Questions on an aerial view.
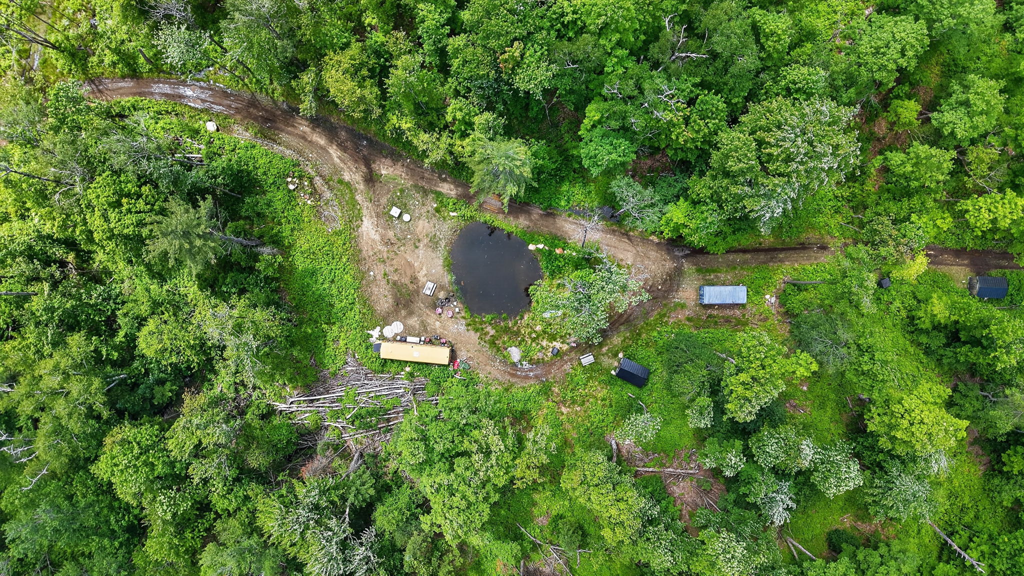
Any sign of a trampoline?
No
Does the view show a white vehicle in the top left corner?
No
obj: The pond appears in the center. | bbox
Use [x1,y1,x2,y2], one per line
[453,224,541,318]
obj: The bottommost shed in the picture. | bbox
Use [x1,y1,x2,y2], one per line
[615,358,649,387]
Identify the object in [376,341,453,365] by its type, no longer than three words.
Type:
bus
